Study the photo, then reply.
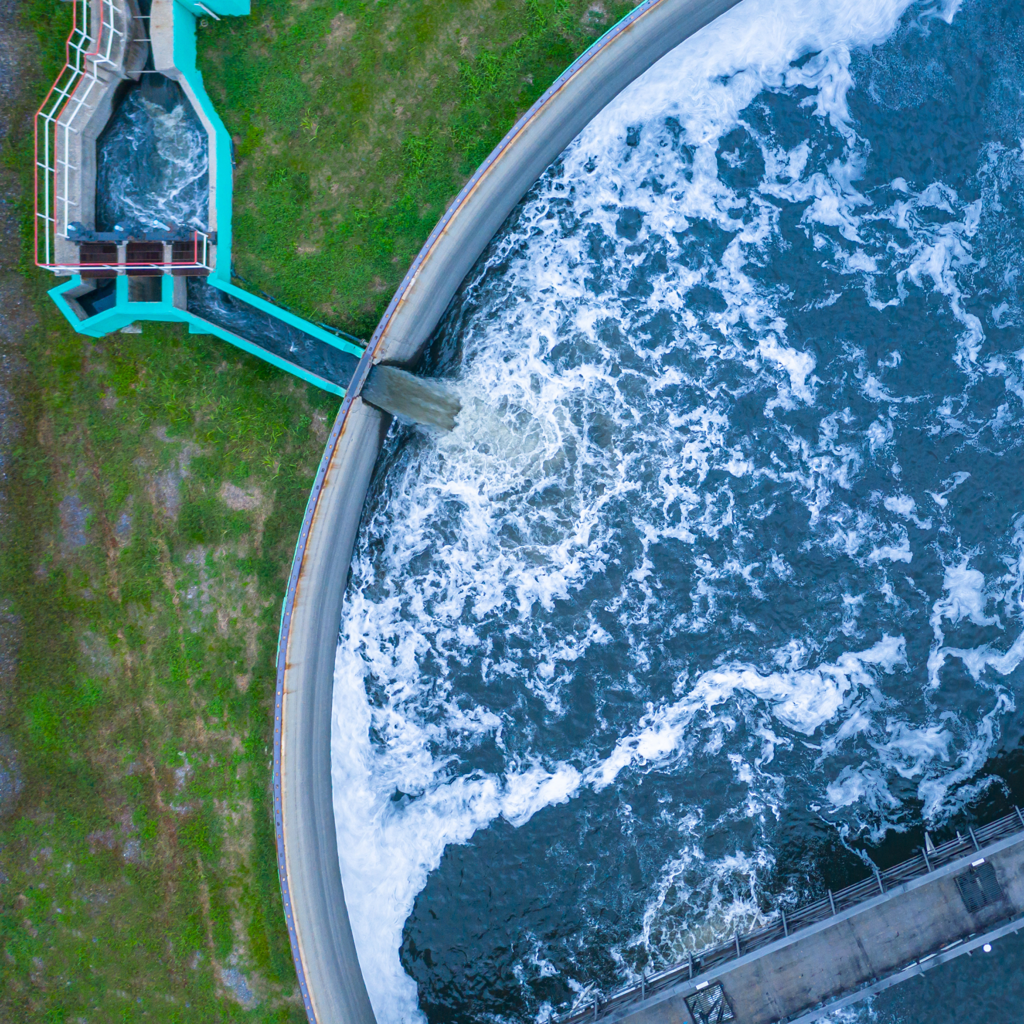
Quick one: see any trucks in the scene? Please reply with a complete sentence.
No, there appears to be no truck in this shot.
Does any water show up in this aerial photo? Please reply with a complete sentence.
Yes, there is water in the image.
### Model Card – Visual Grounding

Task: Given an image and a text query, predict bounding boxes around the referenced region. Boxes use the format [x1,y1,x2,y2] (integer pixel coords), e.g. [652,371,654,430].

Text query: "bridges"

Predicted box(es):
[528,803,1024,1024]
